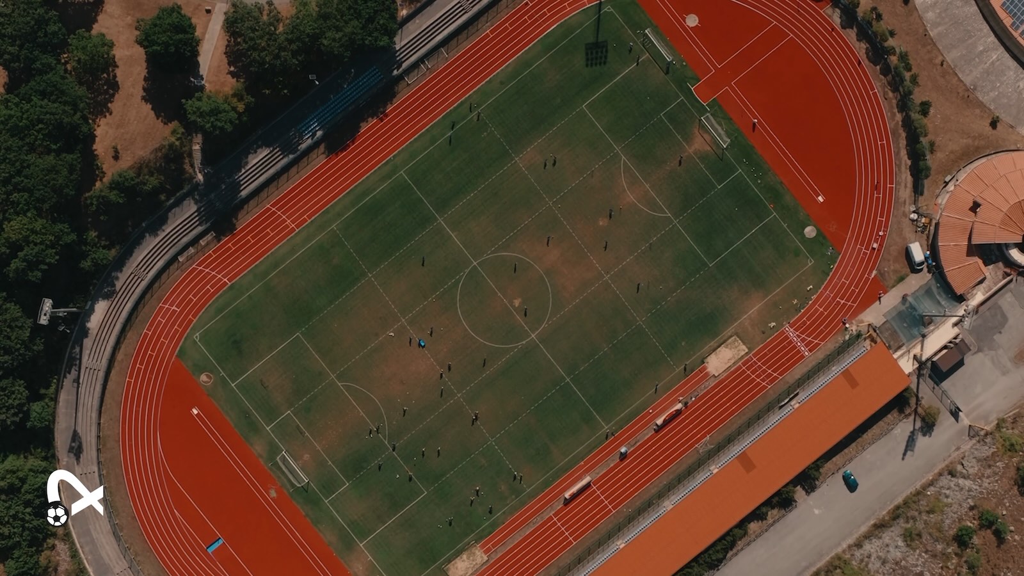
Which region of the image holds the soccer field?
center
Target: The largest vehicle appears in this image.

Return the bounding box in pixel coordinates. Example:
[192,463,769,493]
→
[908,243,925,270]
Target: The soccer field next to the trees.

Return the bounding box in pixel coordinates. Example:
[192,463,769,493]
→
[177,0,840,576]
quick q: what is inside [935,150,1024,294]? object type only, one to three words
building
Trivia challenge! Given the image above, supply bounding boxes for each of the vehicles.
[843,471,859,492]
[908,243,925,270]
